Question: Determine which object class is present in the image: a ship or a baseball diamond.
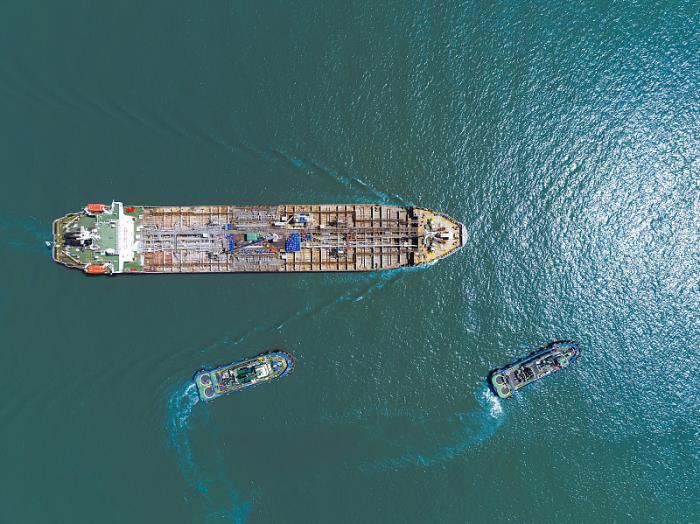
ship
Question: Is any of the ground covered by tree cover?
No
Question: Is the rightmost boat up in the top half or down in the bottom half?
bottom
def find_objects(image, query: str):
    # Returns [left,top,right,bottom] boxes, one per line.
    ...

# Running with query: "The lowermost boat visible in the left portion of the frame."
[196,352,296,400]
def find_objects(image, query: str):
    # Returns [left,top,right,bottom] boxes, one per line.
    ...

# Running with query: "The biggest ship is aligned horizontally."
[45,200,468,274]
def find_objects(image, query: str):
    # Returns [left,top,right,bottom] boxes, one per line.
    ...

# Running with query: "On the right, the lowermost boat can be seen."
[489,342,584,397]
